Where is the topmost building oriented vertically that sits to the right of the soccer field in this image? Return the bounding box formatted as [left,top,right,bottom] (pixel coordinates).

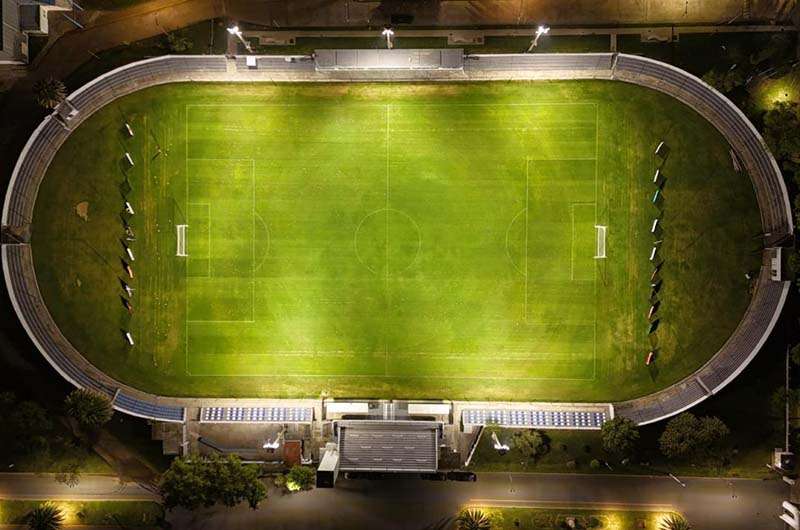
[767,248,781,280]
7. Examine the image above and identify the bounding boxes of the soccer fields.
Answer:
[180,99,603,384]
